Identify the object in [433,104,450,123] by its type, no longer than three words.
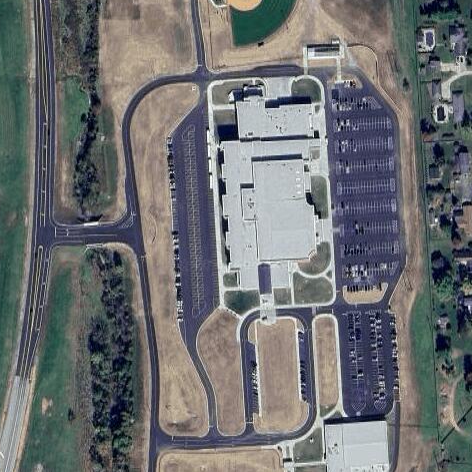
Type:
swimming pool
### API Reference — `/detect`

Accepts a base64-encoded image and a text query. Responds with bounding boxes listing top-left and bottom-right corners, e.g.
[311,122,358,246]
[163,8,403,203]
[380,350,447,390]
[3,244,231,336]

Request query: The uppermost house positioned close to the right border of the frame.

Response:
[450,27,466,53]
